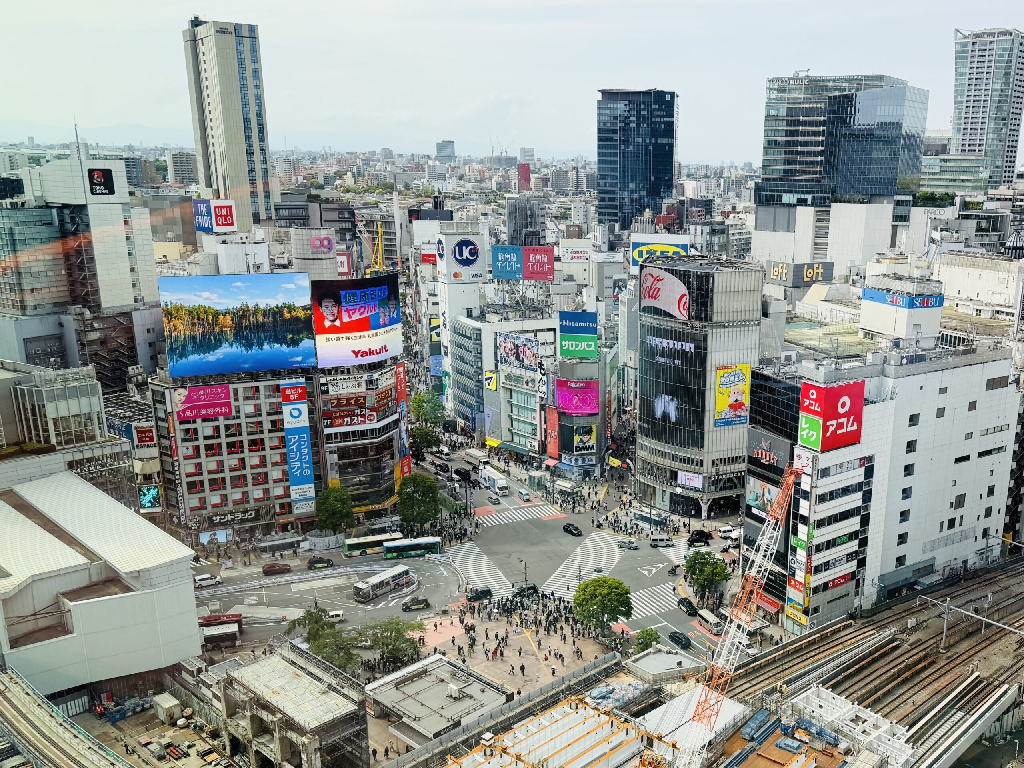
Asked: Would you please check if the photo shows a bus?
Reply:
Yes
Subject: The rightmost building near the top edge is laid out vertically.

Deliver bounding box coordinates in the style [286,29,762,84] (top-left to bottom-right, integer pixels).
[946,19,1024,255]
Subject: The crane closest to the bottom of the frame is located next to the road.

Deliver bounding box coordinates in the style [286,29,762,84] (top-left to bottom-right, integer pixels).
[601,443,824,768]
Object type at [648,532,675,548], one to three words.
vehicle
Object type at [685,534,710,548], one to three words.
car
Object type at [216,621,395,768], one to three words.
building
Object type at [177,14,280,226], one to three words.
building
